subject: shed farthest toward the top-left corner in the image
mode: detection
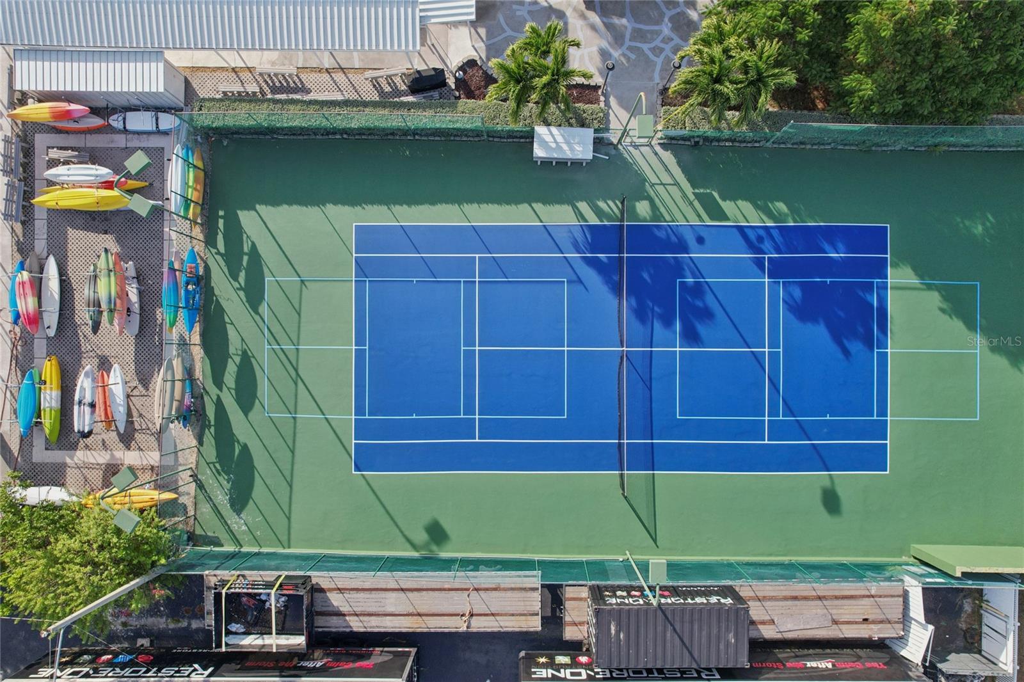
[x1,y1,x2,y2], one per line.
[14,52,187,106]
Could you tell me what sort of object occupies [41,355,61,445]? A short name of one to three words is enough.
boat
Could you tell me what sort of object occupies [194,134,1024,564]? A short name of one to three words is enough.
tennis court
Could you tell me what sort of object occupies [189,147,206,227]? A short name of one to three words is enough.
boat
